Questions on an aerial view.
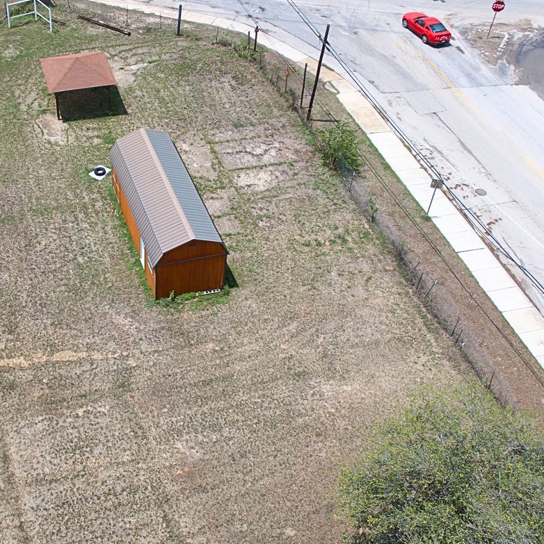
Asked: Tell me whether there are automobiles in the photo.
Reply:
Yes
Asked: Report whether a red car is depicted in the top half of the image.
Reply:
Yes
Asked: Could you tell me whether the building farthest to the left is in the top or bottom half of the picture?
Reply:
top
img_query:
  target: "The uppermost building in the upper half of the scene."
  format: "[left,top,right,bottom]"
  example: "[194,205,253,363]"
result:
[40,50,118,120]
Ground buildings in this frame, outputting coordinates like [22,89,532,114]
[111,125,232,298]
[40,50,118,120]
